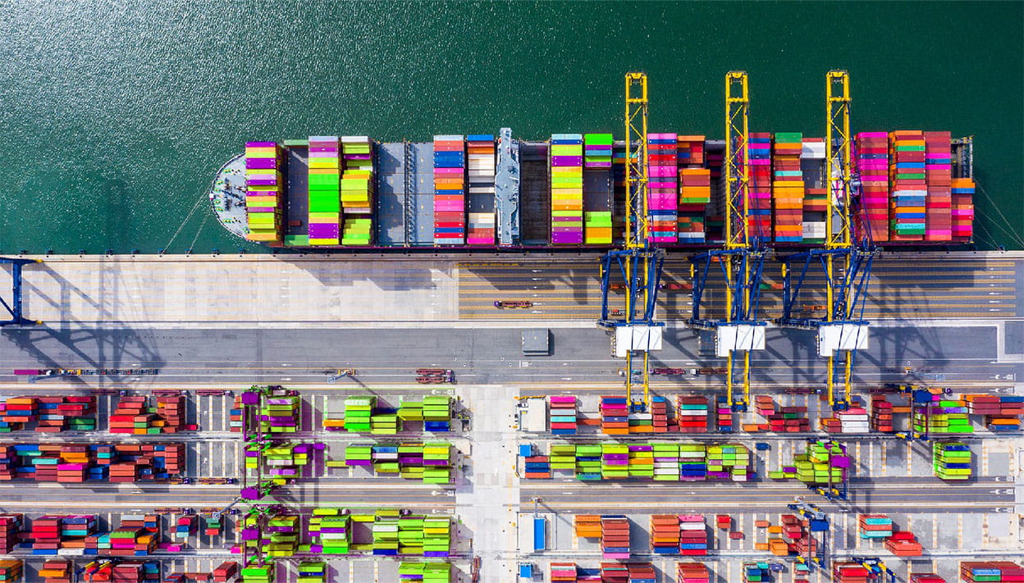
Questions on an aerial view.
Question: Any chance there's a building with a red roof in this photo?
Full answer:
No, there appears to be no building with a red roof in this shot.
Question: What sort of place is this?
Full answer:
The picture captures a port.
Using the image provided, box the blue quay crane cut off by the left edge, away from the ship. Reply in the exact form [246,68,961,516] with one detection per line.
[0,257,44,329]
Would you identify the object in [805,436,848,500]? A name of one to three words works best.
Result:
container crane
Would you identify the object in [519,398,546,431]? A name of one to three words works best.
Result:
building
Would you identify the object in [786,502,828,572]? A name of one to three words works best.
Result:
container crane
